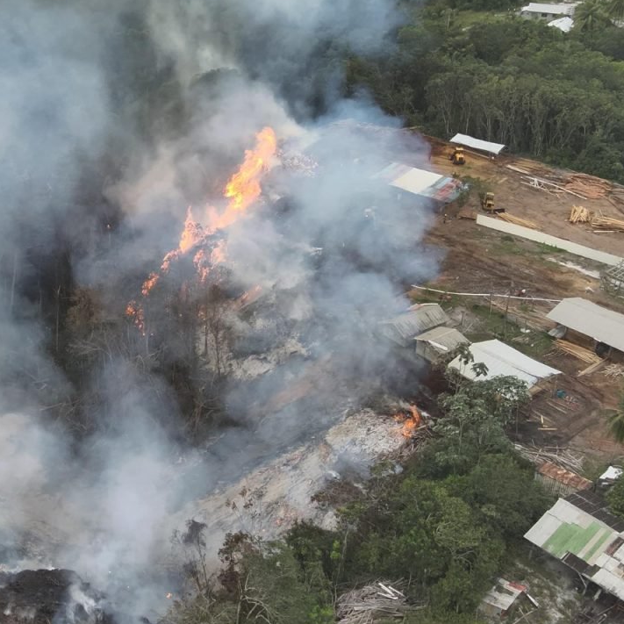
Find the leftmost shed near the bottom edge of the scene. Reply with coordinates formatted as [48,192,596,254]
[476,579,541,619]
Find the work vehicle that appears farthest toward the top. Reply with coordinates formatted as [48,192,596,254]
[449,146,472,164]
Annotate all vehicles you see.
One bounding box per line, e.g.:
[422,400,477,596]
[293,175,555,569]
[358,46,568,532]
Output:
[449,146,472,164]
[479,192,503,217]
